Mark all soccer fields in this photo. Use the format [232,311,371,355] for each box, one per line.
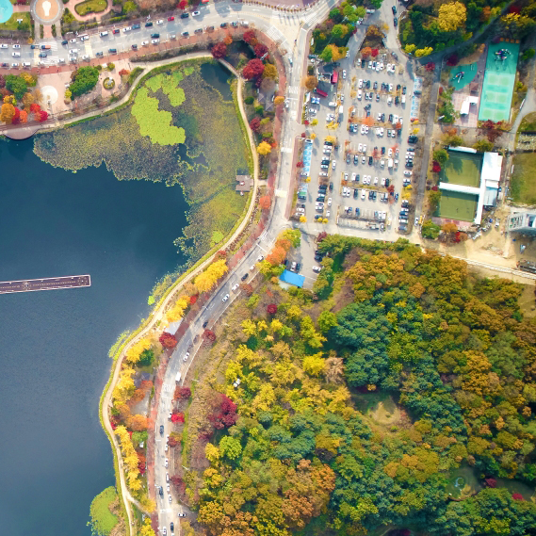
[433,190,479,221]
[440,152,481,188]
